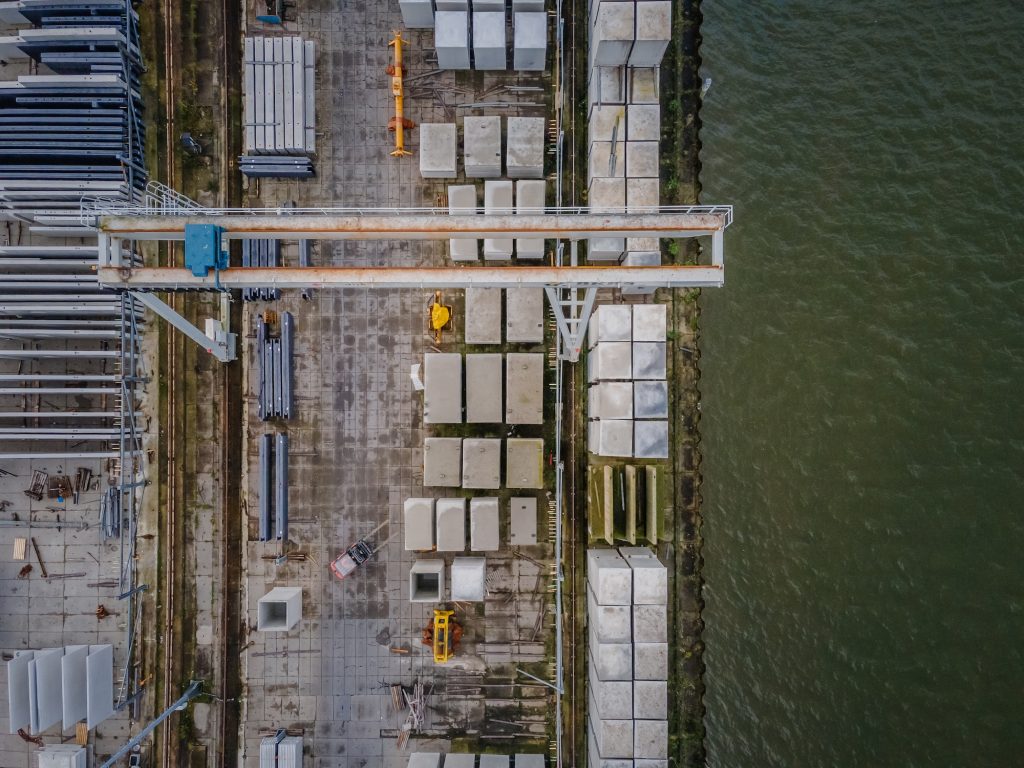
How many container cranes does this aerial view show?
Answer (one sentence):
In total, there is 1 container crane in the scene.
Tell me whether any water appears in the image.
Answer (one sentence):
Yes, water can be seen from above here.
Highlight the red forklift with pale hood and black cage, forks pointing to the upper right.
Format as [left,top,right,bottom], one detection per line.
[328,518,399,584]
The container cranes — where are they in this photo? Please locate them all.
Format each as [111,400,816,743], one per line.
[76,179,734,362]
